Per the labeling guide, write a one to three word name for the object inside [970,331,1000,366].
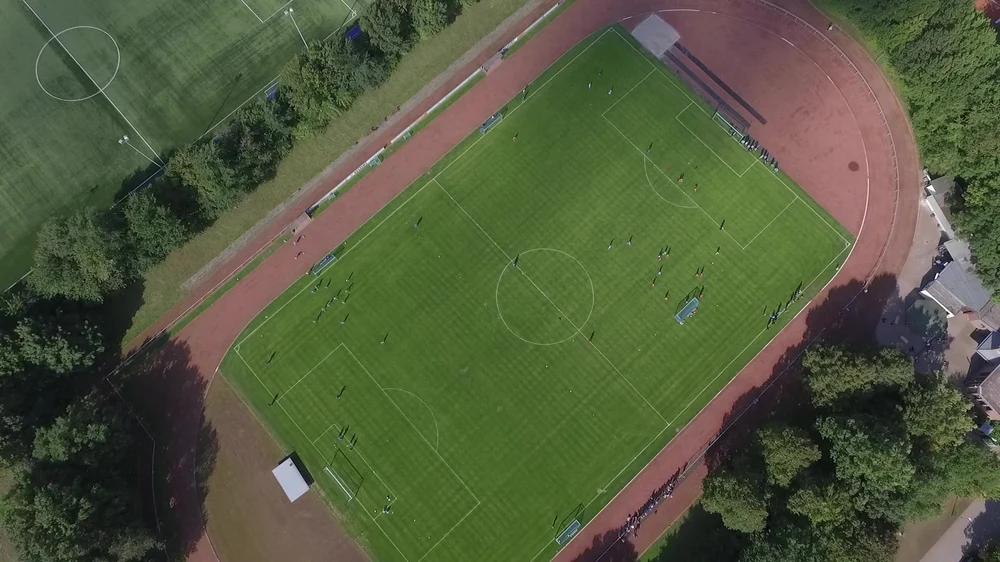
building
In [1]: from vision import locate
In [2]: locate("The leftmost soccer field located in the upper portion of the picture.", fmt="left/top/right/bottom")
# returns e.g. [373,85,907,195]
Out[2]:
[0,0,381,310]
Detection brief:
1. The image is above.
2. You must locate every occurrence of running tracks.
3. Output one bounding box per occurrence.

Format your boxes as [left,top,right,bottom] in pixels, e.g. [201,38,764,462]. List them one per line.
[152,0,896,562]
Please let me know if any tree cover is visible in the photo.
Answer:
Yes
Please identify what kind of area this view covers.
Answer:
sports ground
